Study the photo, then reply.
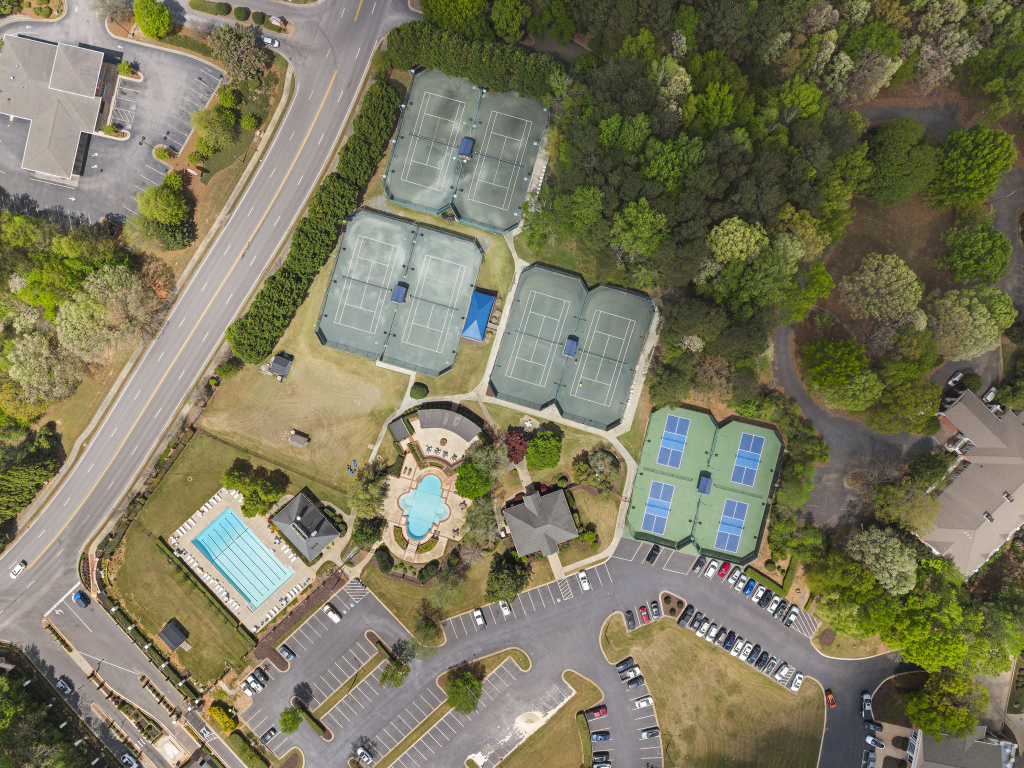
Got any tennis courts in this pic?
Yes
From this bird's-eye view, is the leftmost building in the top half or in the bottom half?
top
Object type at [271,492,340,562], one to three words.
building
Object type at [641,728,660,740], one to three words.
vehicle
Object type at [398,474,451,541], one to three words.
swimming pool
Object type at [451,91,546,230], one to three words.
tennis court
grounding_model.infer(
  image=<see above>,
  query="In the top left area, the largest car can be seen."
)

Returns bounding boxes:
[262,36,282,49]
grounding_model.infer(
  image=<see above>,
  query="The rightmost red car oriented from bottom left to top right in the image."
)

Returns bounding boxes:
[717,561,732,579]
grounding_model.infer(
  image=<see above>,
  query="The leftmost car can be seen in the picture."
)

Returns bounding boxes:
[9,561,27,579]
